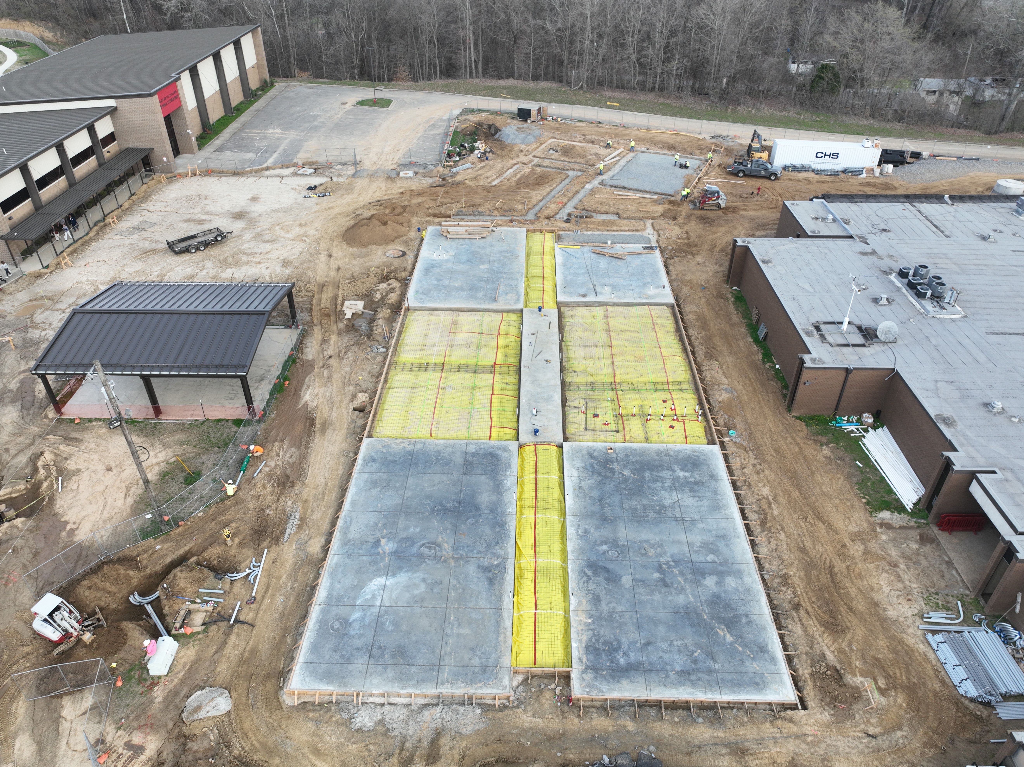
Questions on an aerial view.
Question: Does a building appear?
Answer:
Yes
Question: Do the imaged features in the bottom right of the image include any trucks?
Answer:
No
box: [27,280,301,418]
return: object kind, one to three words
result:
building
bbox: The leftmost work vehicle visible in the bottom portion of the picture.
[21,596,106,662]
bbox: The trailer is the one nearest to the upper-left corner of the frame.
[162,225,231,248]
